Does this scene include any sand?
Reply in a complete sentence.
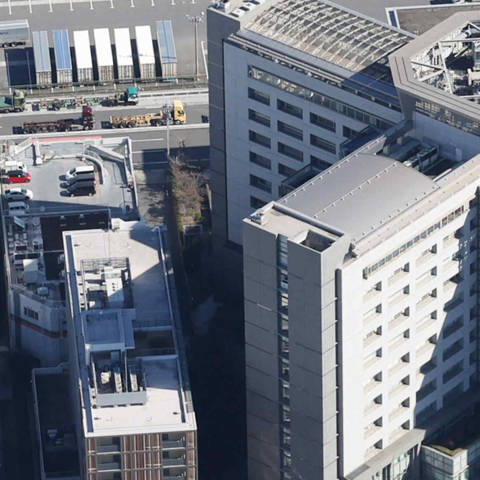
No, the picture contains no sand.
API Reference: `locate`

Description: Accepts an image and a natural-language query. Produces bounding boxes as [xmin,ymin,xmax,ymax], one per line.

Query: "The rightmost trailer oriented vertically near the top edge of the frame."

[155,20,177,81]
